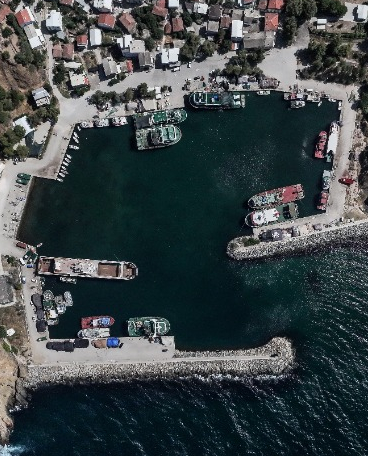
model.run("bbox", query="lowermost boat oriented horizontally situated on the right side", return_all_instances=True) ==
[249,202,303,226]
